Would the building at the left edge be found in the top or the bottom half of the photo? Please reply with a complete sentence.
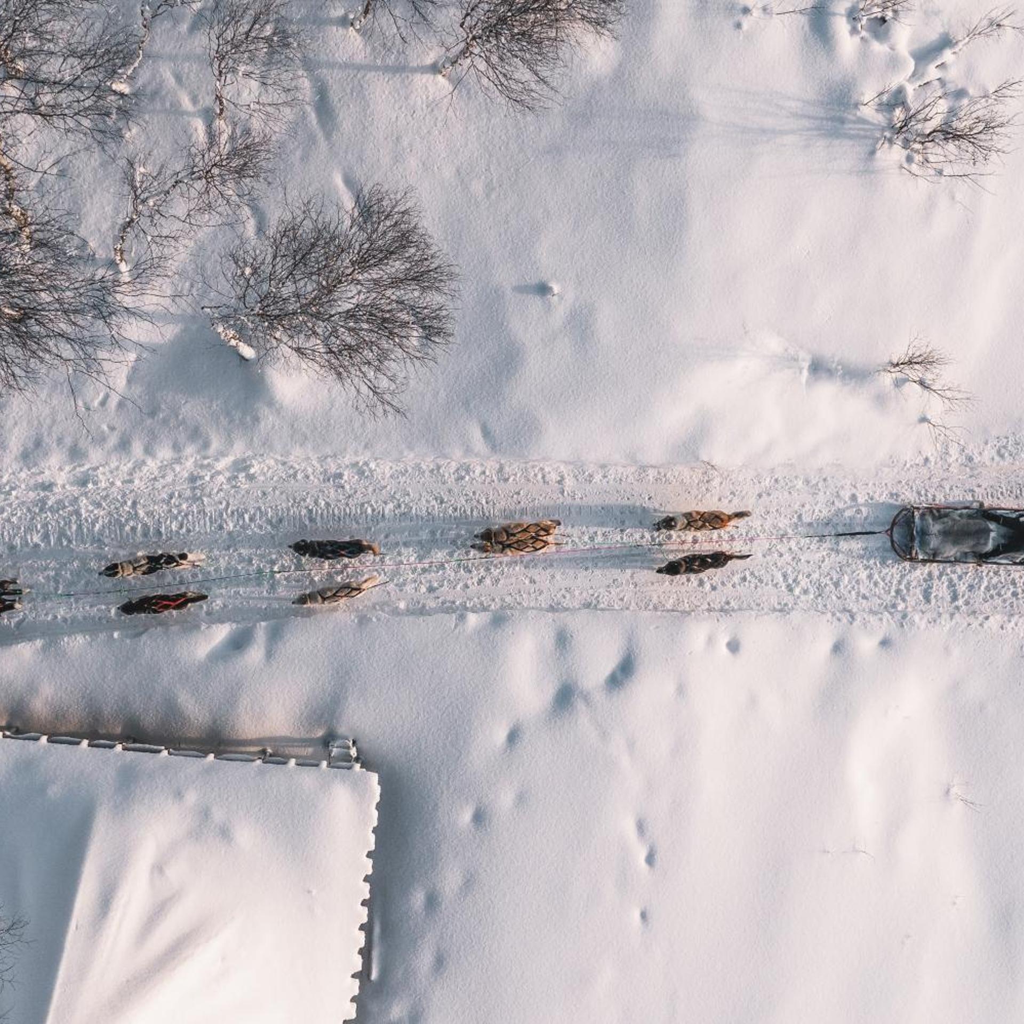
The bottom half of the photo is where the building at the left edge is.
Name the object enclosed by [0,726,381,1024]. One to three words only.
building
